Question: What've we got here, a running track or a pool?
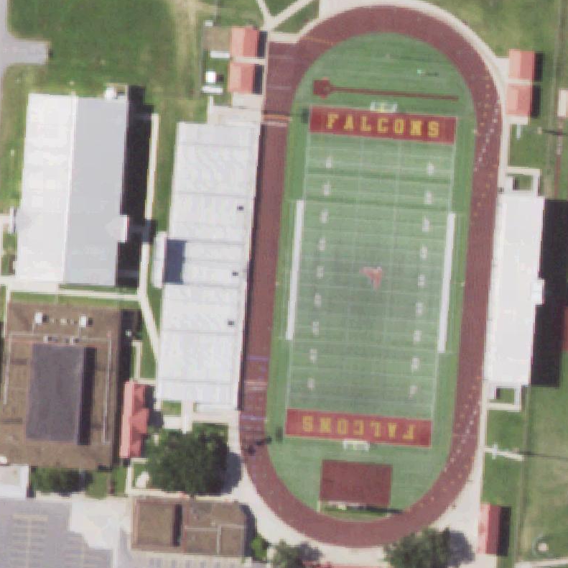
running track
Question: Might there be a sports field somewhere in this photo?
Yes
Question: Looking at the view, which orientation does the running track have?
up and down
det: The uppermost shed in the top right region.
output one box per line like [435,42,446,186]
[509,49,537,80]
